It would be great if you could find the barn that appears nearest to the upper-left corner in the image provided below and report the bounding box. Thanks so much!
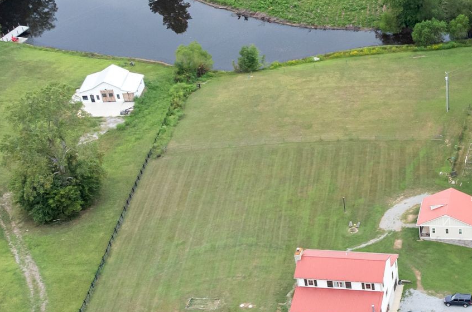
[79,64,148,103]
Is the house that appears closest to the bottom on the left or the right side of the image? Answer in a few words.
right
